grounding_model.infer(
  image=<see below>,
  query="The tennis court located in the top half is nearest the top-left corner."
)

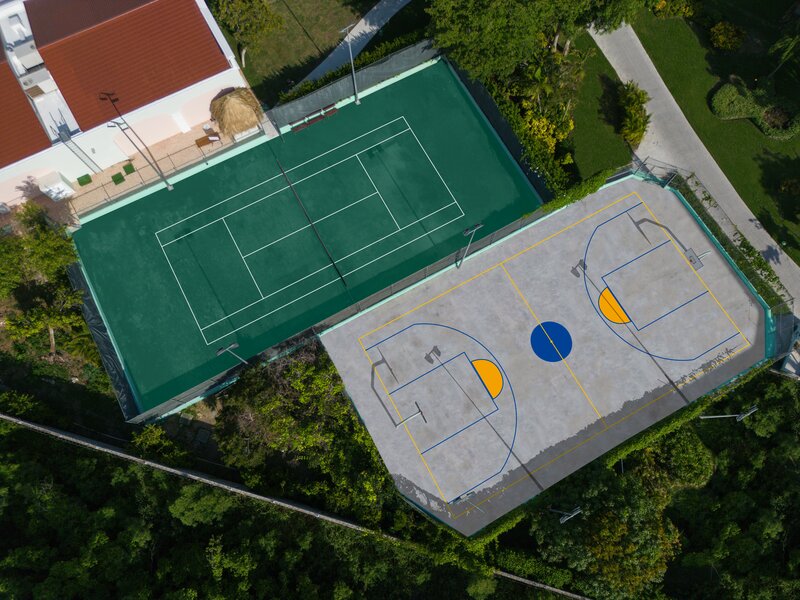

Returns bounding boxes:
[70,59,550,420]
